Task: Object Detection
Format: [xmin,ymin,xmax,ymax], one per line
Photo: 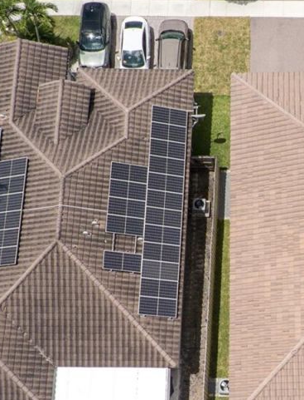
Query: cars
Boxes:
[76,0,116,70]
[115,8,153,71]
[155,16,192,71]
